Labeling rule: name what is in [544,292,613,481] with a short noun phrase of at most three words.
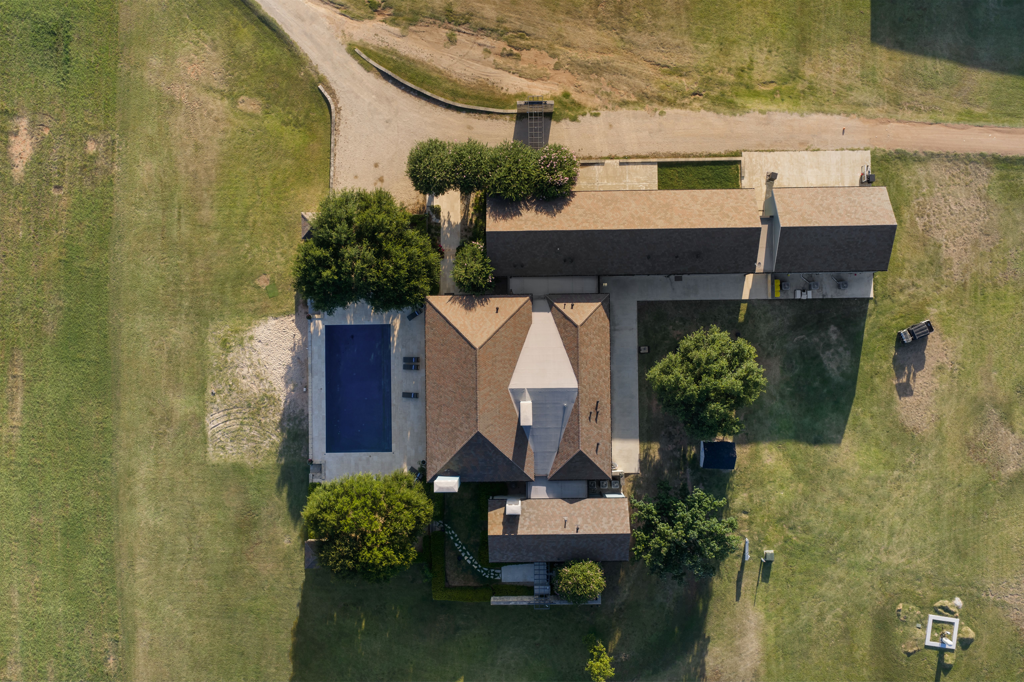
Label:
house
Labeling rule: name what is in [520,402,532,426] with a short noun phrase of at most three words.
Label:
chimney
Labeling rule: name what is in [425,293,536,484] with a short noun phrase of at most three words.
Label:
house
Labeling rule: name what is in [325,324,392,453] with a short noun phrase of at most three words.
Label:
swimming pool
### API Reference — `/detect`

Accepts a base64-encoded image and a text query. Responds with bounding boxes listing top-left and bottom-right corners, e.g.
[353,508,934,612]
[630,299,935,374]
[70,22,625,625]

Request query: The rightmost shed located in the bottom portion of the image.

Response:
[700,441,737,469]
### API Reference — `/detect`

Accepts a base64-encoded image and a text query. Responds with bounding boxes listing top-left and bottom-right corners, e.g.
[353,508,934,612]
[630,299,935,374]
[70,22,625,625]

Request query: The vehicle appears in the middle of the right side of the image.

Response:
[898,319,934,343]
